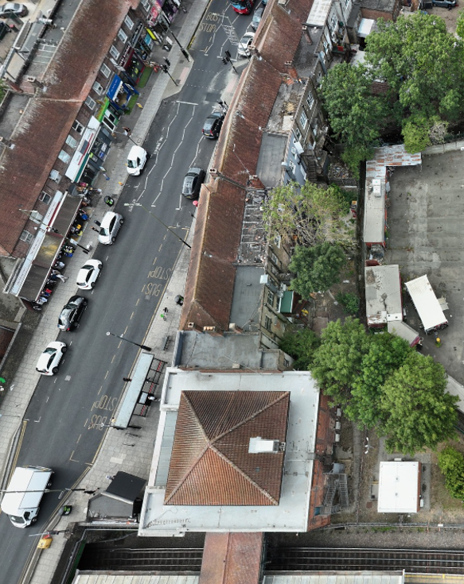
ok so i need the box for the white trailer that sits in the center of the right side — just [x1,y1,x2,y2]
[404,275,452,336]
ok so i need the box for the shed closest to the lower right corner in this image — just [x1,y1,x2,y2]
[378,457,424,512]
